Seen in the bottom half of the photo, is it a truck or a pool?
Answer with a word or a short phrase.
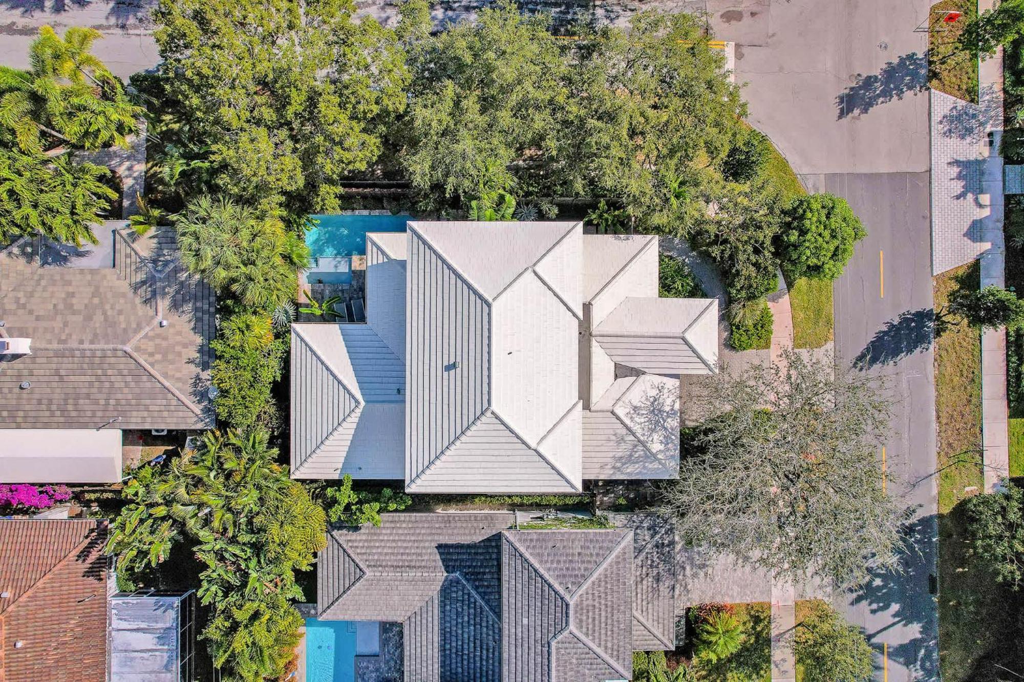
pool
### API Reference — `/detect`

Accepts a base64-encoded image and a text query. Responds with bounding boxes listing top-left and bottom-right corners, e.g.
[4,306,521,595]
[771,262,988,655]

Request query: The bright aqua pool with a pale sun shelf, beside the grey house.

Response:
[307,617,384,682]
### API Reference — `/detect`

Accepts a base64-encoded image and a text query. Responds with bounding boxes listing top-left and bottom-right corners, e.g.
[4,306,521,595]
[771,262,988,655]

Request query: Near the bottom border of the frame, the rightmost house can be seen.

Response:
[314,511,677,682]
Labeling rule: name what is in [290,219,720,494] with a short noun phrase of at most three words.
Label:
house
